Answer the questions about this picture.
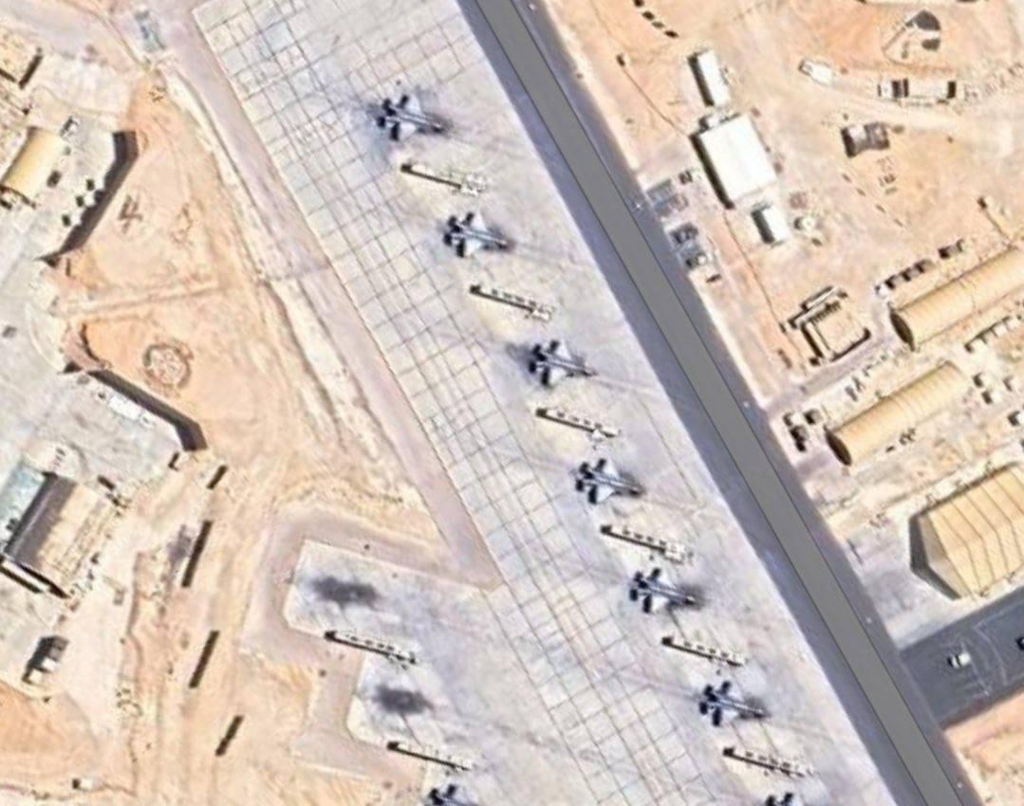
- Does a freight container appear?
Yes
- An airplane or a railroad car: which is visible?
airplane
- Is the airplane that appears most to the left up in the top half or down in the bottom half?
top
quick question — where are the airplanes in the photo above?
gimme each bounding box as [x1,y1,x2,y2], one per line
[440,788,477,806]
[452,215,514,257]
[537,341,598,383]
[709,684,769,725]
[585,461,646,503]
[639,571,700,612]
[386,96,449,138]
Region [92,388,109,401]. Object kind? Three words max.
vehicle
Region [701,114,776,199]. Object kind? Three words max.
shed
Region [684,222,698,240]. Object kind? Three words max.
vehicle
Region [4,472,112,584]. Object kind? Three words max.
hangar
